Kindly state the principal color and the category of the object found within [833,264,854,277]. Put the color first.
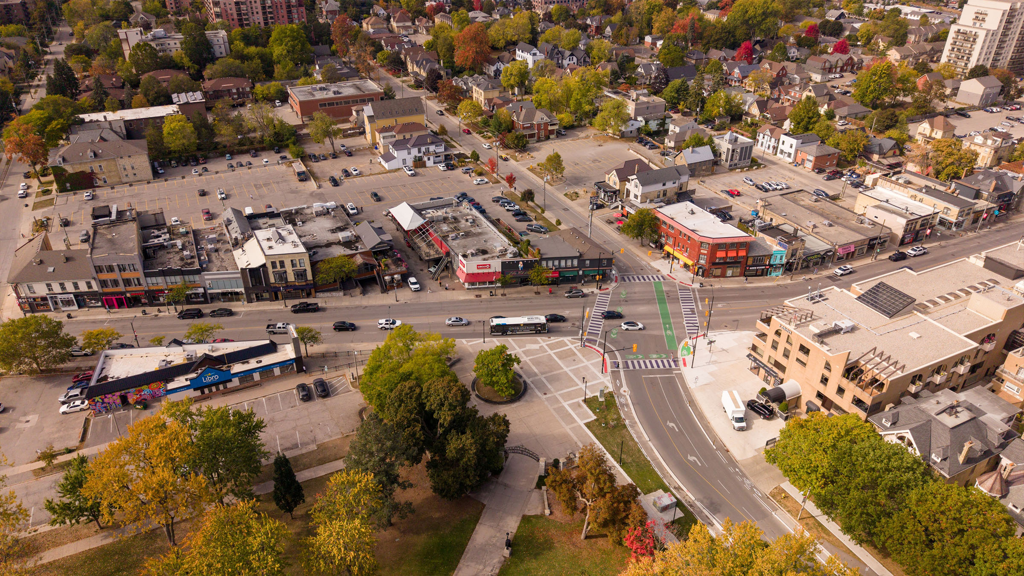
white vehicle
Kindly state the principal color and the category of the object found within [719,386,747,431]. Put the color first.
white truck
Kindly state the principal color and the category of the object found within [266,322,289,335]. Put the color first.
gray vehicle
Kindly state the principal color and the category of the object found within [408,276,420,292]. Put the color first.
white vehicle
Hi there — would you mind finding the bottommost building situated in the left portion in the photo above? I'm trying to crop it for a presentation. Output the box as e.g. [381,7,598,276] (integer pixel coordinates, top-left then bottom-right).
[86,325,306,417]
